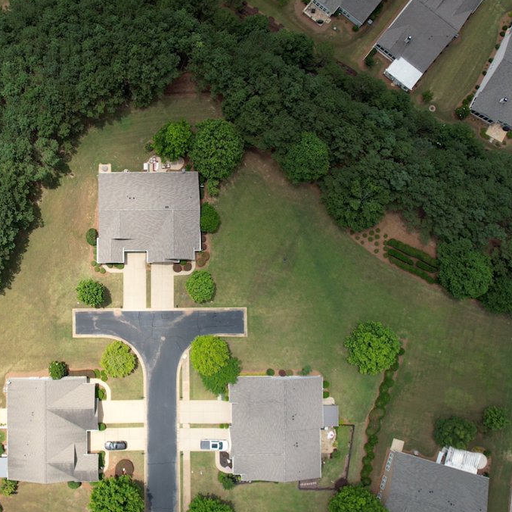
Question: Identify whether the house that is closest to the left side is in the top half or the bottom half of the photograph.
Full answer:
The bottom half of the photo is where the house that is closest to the left side is.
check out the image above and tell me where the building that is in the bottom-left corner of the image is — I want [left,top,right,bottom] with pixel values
[0,377,99,486]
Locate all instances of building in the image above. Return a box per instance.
[468,27,512,130]
[0,377,99,486]
[229,376,338,484]
[312,0,383,25]
[97,173,201,264]
[381,445,493,512]
[375,0,482,92]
